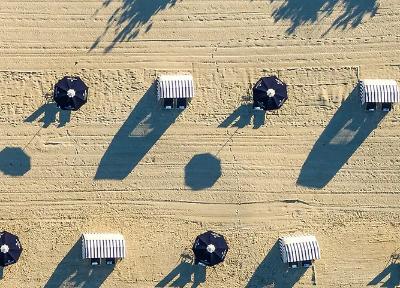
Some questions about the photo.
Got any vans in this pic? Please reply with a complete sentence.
No, there appears to be no van in this shot.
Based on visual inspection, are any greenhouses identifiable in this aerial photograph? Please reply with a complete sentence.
No, the frame has no greenhouse in it.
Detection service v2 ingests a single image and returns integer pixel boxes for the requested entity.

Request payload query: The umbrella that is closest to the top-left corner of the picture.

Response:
[54,76,88,110]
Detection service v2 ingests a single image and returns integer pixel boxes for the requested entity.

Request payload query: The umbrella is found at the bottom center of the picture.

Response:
[192,231,228,267]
